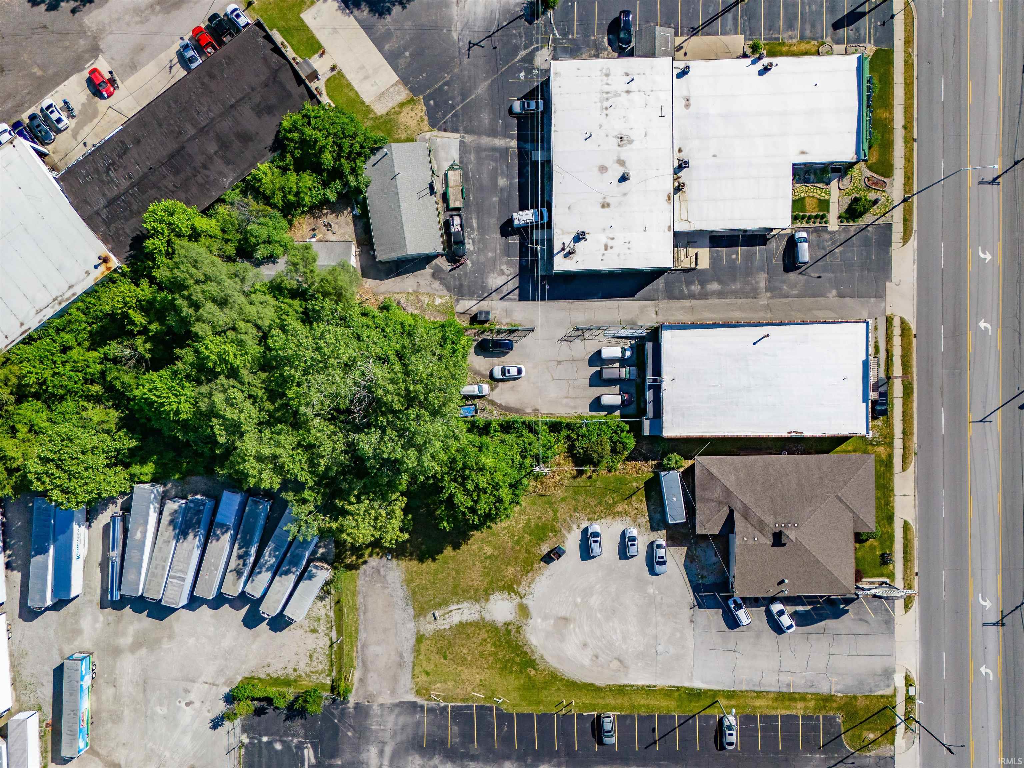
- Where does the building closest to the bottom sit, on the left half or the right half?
right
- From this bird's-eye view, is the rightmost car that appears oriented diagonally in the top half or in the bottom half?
bottom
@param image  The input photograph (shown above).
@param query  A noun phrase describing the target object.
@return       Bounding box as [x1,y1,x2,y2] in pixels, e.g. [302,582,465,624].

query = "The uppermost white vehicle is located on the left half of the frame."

[225,1,251,30]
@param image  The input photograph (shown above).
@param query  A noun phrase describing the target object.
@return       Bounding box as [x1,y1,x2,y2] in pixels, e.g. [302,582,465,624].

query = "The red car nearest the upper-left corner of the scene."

[88,66,116,102]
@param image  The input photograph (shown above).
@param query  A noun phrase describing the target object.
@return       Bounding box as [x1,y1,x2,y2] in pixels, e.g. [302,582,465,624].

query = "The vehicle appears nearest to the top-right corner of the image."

[793,230,811,267]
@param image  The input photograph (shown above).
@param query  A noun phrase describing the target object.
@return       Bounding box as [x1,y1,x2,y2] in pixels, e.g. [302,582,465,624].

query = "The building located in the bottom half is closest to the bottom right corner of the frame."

[694,453,875,597]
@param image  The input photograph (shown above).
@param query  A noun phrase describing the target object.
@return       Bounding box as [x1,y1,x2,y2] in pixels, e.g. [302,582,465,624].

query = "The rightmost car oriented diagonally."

[769,599,797,635]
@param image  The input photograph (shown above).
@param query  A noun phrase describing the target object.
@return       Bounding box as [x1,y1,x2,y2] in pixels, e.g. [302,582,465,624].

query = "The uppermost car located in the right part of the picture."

[618,9,634,53]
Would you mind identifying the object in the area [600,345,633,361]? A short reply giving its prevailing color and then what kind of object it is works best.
white vehicle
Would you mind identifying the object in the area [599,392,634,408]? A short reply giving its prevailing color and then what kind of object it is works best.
white car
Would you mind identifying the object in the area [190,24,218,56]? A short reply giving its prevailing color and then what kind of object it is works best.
red truck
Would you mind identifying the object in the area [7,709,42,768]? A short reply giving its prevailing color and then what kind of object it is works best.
white trailer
